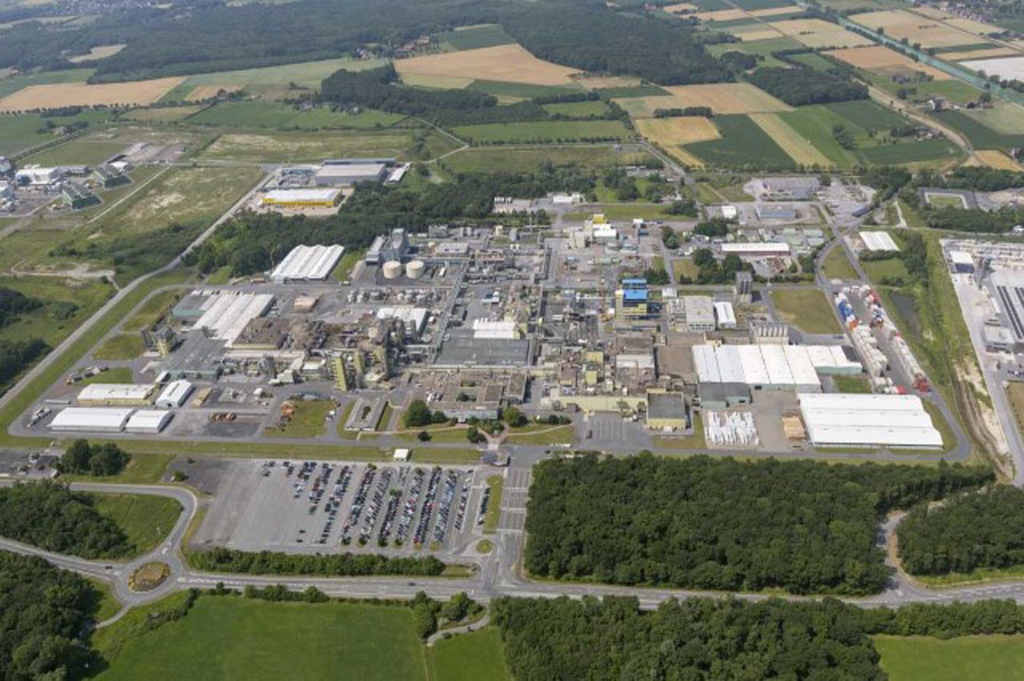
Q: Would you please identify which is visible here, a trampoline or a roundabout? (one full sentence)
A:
It is a roundabout that can be seen here.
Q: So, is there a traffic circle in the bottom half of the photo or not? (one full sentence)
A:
Yes, in the bottom half of the photo there is a traffic circle.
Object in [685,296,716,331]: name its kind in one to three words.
building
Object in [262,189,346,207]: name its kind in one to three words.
building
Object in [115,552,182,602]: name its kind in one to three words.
roundabout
